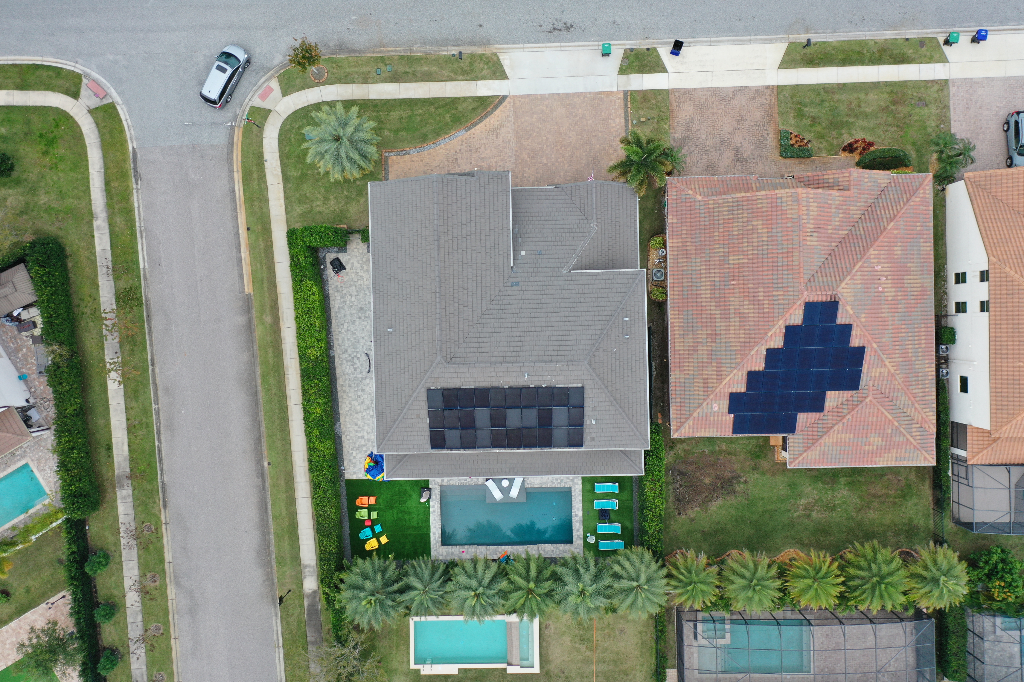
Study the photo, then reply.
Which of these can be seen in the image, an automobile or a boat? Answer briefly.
automobile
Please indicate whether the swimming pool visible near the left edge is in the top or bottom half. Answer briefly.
bottom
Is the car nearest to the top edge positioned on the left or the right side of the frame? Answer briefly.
left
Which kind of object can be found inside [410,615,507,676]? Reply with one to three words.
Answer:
swimming pool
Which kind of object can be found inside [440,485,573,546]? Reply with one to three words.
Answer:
swimming pool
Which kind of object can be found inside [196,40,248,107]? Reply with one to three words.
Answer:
car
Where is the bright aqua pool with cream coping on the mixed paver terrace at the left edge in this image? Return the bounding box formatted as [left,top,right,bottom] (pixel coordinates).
[0,457,52,531]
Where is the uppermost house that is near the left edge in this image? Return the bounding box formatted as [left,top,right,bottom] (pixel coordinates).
[0,346,35,413]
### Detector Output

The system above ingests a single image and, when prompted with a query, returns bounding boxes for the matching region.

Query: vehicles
[1006,111,1024,169]
[196,40,248,107]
